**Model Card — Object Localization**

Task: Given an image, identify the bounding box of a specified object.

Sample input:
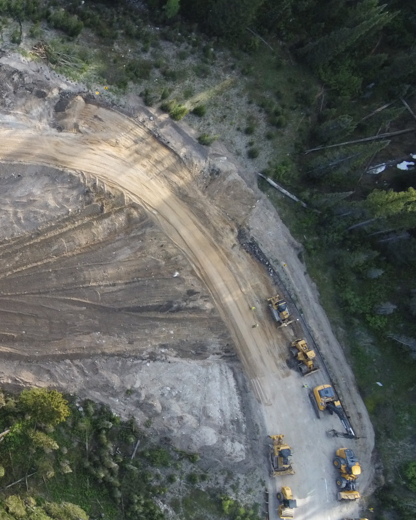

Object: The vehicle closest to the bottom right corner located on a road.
[331,449,359,501]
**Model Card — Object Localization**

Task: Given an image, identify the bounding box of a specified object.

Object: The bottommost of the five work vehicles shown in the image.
[276,487,298,520]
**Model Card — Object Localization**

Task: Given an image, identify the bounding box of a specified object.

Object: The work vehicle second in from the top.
[305,377,359,432]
